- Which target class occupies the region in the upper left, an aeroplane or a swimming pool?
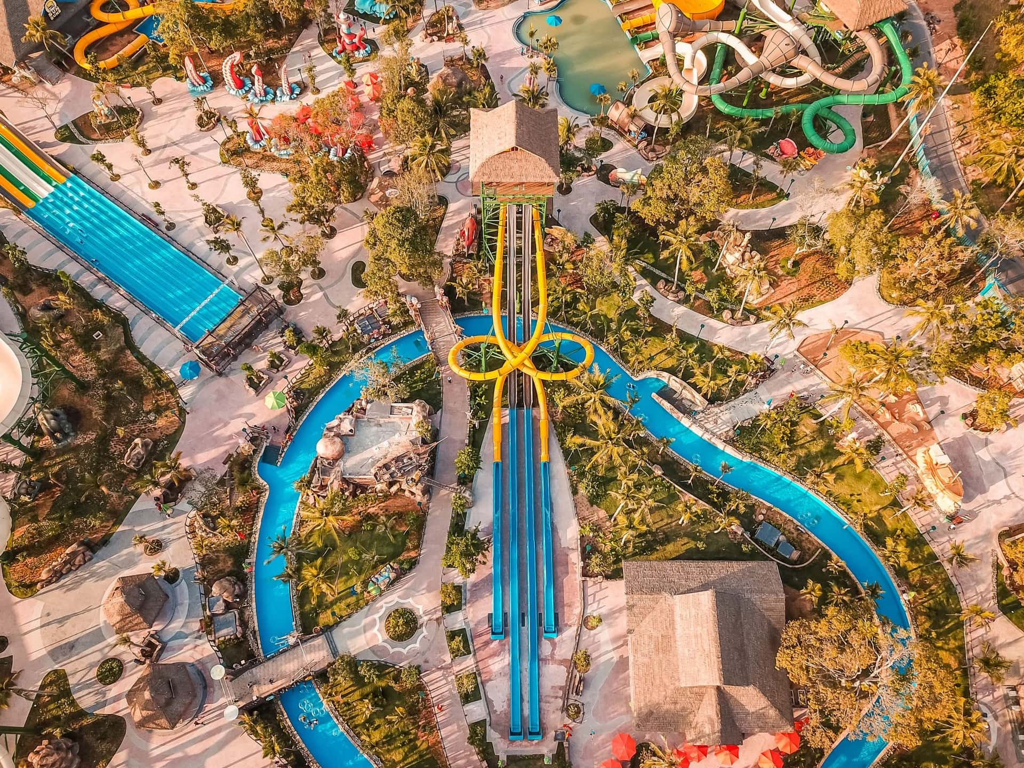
swimming pool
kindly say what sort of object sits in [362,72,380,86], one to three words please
umbrella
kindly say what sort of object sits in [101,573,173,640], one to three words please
shed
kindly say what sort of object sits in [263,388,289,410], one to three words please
umbrella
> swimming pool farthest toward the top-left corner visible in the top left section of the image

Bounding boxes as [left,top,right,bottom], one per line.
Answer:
[133,15,170,41]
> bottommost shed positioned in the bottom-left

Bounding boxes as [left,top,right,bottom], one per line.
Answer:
[124,657,208,735]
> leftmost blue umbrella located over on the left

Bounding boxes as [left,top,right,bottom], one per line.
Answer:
[176,357,203,380]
